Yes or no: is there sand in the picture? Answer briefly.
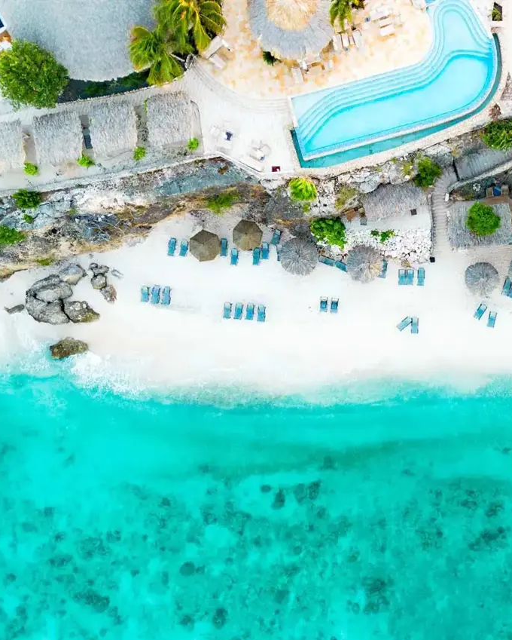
Yes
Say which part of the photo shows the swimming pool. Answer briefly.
top right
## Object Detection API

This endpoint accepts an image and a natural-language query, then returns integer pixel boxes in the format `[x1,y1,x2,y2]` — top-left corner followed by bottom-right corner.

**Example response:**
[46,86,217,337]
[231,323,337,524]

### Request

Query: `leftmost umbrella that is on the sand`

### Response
[189,230,220,262]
